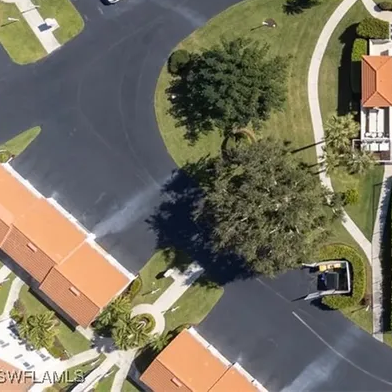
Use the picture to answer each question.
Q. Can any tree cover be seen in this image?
Yes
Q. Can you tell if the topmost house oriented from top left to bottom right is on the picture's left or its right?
left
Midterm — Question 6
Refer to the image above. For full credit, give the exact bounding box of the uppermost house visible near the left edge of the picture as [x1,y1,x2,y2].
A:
[0,156,136,327]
